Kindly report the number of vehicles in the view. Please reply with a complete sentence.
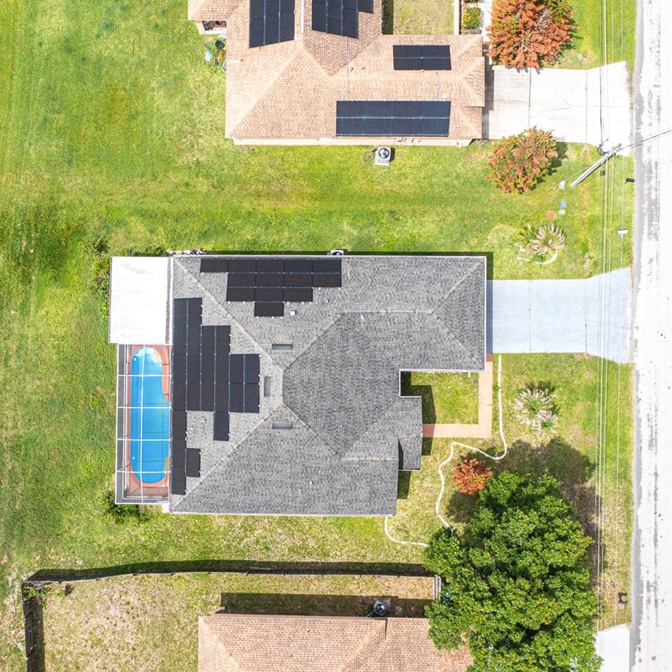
Not a single vehicle can be seen.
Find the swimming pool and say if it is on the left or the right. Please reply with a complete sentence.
The swimming pool appears in the left half of the scene.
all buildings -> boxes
[197,603,484,672]
[188,0,485,147]
[108,255,488,517]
